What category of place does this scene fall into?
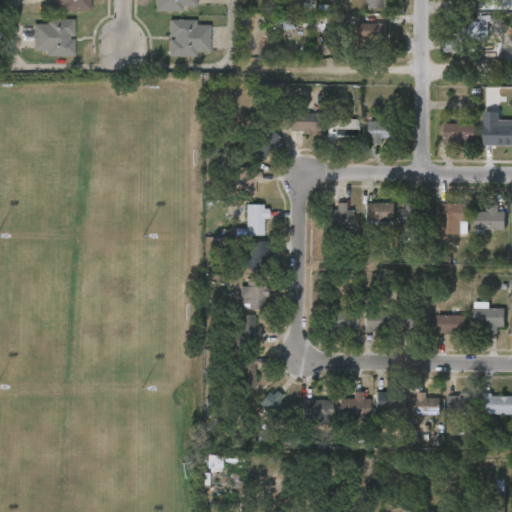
sports ground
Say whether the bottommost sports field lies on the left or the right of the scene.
left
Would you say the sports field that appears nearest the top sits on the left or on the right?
left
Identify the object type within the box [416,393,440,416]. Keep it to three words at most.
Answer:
house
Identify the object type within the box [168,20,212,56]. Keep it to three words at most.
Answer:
house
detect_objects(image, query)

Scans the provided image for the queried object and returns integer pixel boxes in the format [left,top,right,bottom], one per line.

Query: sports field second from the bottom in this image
[0,236,200,388]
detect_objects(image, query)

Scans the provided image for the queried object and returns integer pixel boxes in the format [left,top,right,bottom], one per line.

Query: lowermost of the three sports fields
[0,388,200,512]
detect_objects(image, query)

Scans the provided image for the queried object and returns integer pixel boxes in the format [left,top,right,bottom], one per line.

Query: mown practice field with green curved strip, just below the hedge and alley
[0,80,200,236]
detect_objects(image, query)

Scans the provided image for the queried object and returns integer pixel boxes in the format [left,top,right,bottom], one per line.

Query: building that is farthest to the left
[34,20,76,56]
